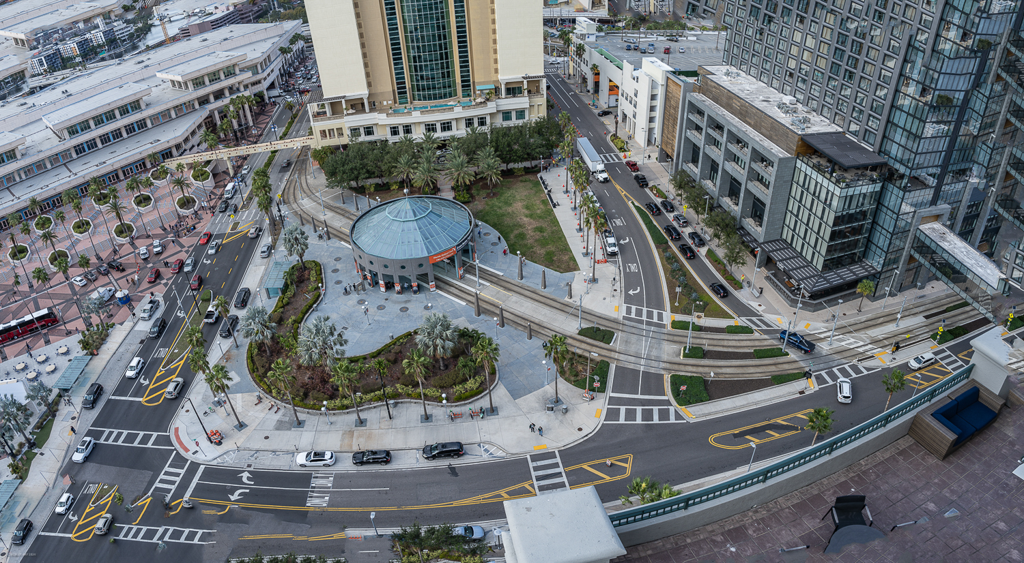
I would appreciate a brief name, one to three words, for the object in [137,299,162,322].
truck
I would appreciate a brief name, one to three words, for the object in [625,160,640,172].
vehicle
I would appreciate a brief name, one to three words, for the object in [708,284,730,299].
car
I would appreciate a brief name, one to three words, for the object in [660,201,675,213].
vehicle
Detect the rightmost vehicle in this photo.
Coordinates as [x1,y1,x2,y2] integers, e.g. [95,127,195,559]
[904,352,939,373]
